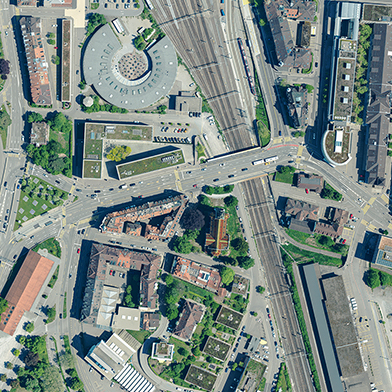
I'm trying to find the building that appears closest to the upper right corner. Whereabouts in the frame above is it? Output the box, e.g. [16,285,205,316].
[362,4,392,23]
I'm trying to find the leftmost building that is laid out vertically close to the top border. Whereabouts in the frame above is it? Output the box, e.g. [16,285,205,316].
[21,15,52,105]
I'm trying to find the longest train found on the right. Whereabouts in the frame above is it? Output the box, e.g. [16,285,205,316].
[238,36,255,94]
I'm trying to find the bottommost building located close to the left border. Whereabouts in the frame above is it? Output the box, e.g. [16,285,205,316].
[0,251,53,337]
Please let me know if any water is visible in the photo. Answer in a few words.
No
